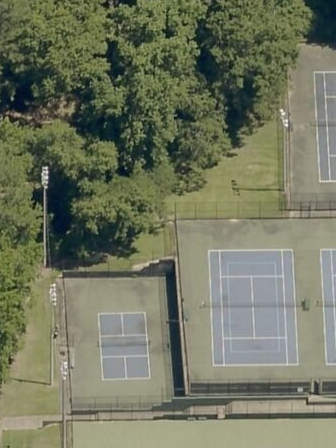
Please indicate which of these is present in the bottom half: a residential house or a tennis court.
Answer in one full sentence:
You can see a tennis court in the bottom half.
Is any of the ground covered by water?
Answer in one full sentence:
No, there is no water in the image.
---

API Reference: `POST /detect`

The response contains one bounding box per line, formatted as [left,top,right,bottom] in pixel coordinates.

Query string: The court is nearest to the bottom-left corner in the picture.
[100,313,148,379]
